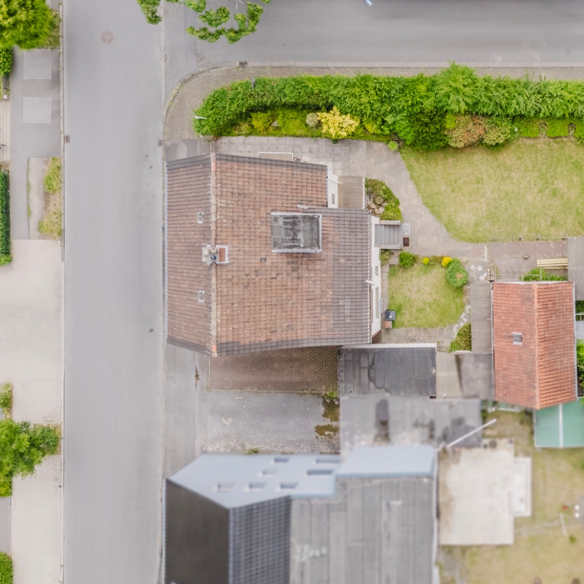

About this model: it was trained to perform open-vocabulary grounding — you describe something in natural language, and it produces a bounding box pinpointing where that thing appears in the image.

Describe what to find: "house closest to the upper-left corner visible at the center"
[165,153,381,355]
